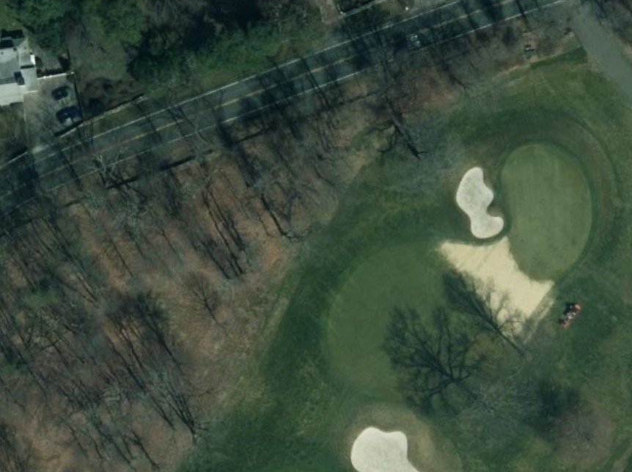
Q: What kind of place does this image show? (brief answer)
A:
golf course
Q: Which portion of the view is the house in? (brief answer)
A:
top left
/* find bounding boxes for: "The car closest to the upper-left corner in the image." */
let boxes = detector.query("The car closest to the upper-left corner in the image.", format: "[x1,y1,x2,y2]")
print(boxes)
[49,86,71,99]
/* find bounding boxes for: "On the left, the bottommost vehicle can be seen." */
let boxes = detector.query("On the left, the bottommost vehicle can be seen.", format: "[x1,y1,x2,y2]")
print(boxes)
[56,109,80,121]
